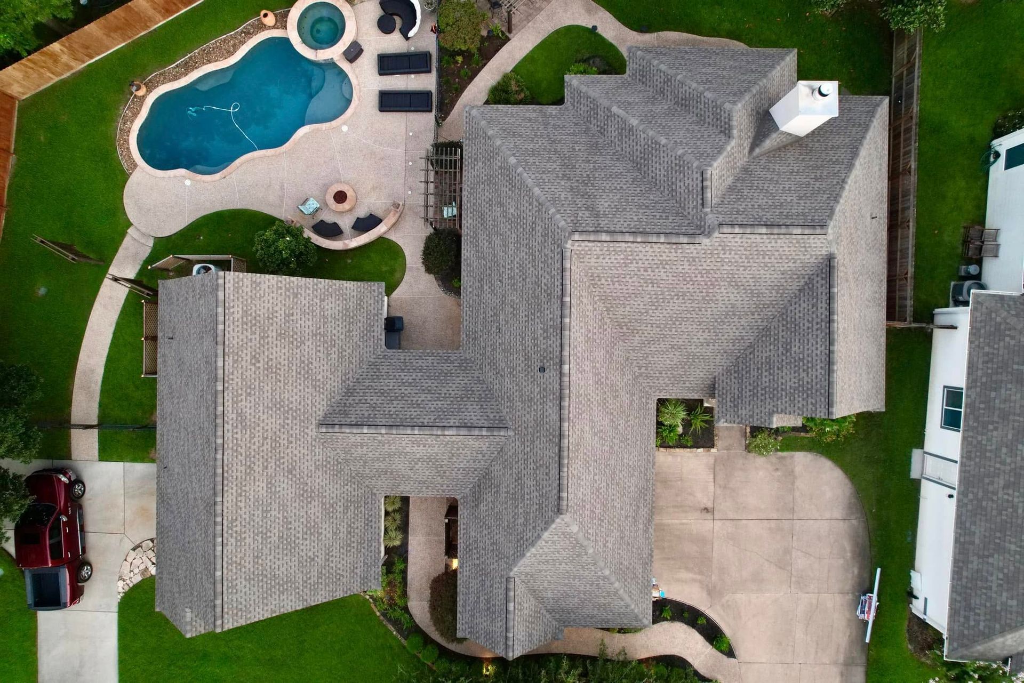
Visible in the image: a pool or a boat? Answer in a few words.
pool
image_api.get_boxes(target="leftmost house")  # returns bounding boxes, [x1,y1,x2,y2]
[156,47,889,663]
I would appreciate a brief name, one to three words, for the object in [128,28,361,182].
swimming pool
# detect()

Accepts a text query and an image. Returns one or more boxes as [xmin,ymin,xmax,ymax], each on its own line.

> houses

[914,116,1024,683]
[156,47,889,663]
